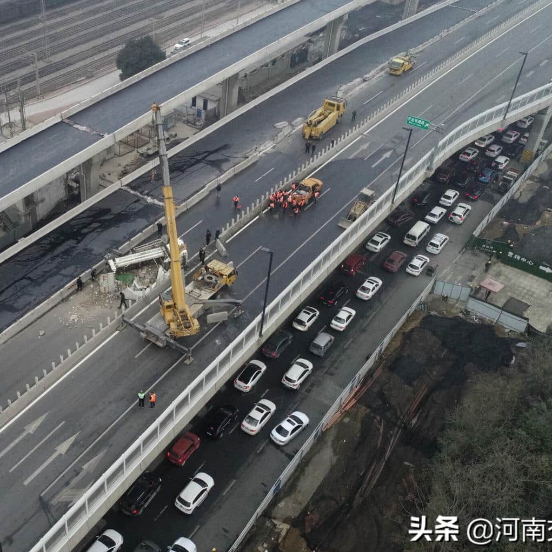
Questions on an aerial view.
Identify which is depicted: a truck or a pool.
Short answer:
truck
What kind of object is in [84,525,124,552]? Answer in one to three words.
car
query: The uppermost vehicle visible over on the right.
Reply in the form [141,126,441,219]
[384,52,417,77]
